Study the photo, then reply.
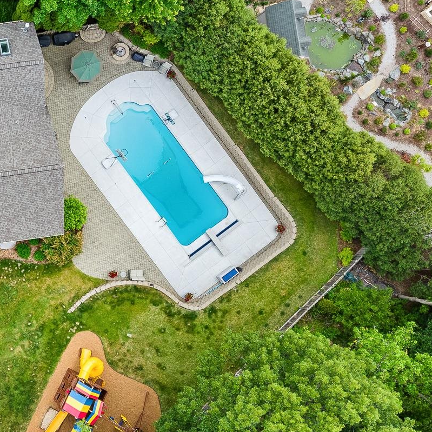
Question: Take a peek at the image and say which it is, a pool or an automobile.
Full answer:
Looking from above, you can make out a pool.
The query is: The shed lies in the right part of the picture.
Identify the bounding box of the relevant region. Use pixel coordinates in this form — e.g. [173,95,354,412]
[263,0,313,56]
